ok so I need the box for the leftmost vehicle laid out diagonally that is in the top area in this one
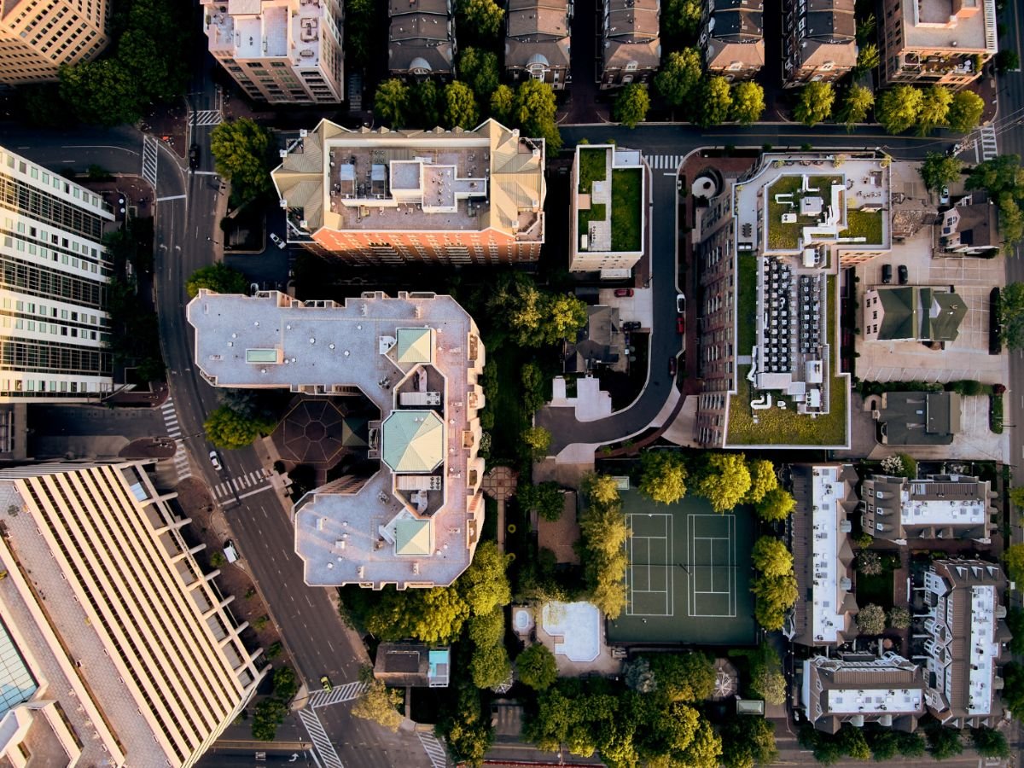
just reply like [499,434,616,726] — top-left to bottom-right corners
[269,231,286,250]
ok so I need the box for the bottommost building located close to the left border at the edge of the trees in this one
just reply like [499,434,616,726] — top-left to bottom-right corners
[0,442,285,768]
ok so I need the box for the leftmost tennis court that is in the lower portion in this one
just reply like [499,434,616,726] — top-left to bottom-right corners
[609,477,680,645]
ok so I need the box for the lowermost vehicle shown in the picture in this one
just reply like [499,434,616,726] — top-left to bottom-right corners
[319,674,332,695]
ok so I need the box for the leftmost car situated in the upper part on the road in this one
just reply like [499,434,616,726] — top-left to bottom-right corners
[186,142,198,165]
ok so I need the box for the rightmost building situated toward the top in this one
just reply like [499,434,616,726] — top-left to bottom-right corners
[931,191,1000,257]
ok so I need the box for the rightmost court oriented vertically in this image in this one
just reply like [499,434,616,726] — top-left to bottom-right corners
[680,478,757,645]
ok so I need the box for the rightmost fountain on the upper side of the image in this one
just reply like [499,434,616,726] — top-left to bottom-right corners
[691,159,732,199]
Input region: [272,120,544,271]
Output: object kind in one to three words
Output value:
building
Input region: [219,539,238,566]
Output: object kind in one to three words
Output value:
vehicle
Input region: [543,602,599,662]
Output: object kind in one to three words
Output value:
swimming pool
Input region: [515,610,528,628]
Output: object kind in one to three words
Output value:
swimming pool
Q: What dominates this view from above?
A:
buildings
